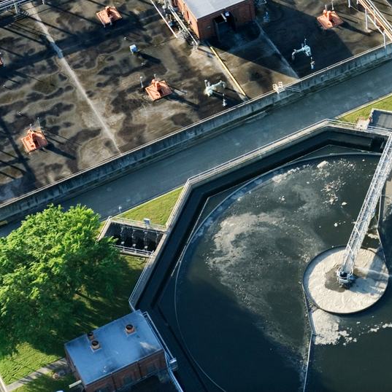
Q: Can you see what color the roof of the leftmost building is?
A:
blue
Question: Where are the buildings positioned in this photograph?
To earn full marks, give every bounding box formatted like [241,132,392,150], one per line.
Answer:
[174,0,253,40]
[63,311,163,392]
